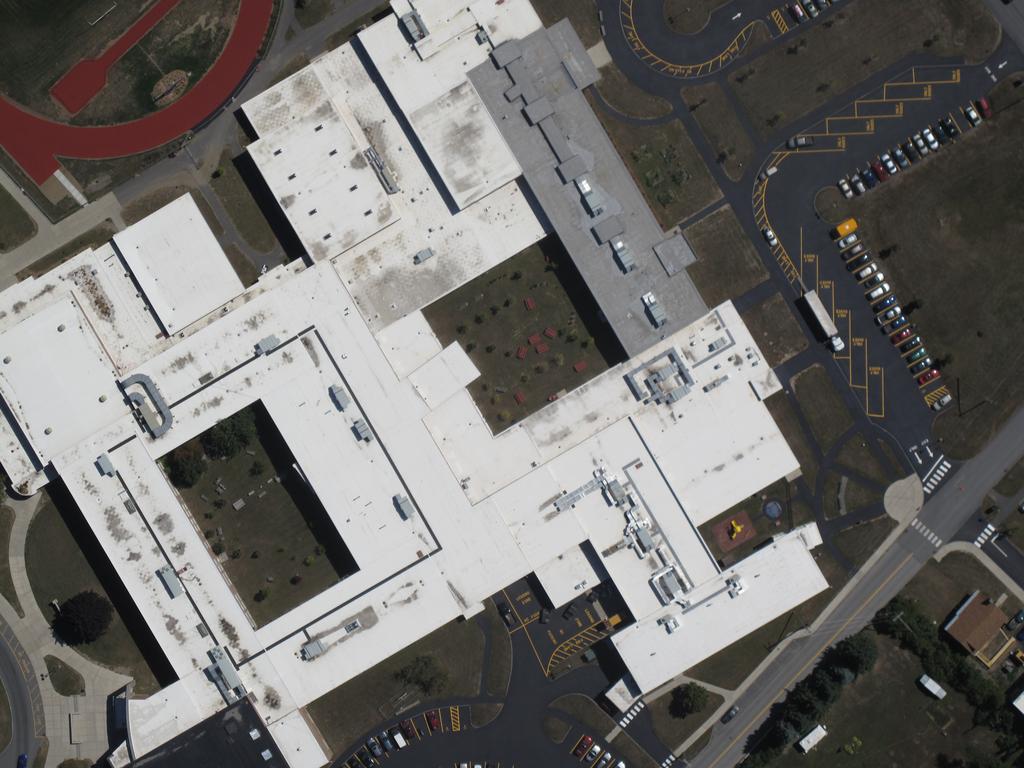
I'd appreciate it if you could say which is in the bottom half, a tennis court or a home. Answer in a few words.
home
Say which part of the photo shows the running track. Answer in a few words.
top left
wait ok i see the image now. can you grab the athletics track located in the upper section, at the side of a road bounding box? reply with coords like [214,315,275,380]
[0,0,275,205]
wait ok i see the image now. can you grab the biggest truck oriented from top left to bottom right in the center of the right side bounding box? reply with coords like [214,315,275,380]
[803,290,845,353]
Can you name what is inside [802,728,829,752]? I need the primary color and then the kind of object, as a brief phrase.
white camper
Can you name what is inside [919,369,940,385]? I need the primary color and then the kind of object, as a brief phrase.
red car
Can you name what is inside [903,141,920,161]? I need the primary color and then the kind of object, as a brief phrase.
black car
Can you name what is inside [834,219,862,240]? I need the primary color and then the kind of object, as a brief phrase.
orange vehicle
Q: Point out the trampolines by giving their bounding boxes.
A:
[763,500,780,518]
